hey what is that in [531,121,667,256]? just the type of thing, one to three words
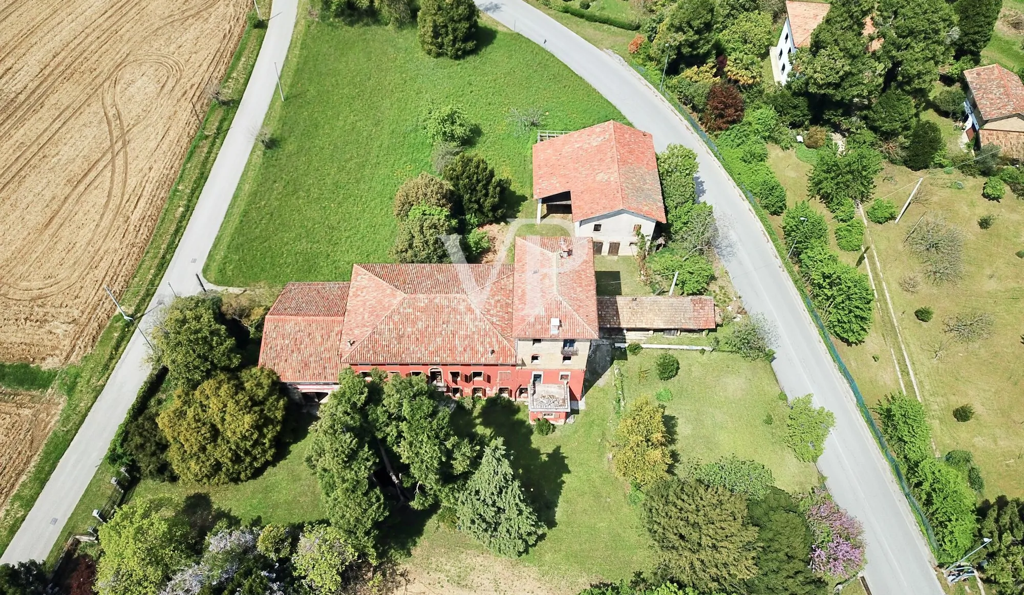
barn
